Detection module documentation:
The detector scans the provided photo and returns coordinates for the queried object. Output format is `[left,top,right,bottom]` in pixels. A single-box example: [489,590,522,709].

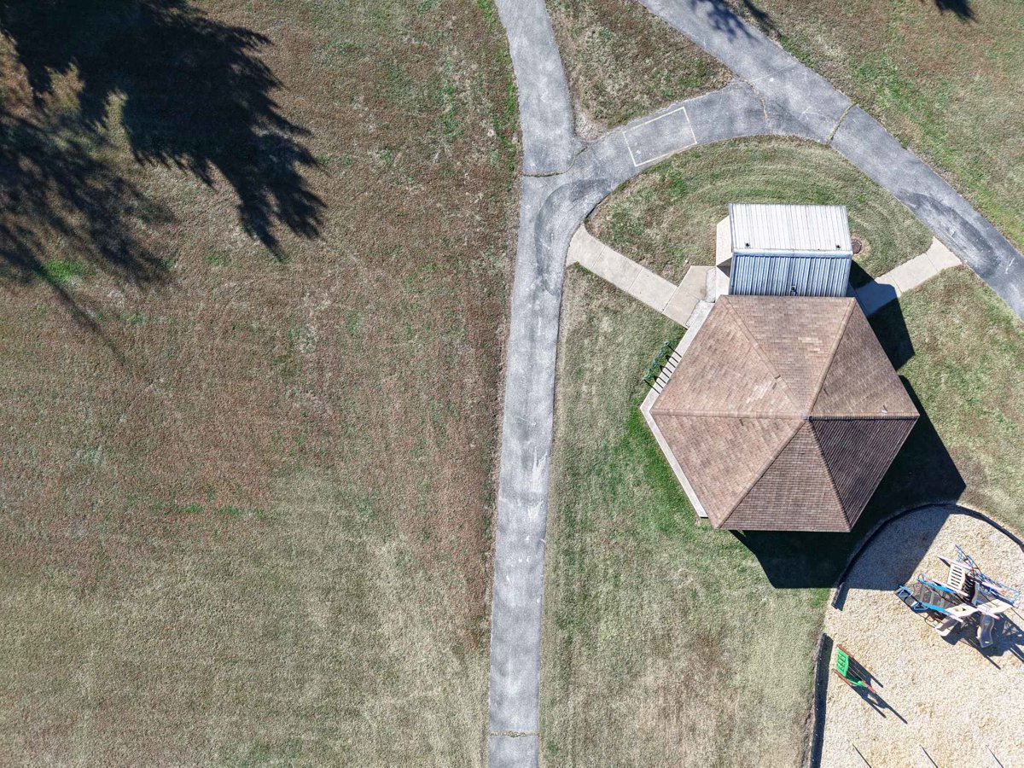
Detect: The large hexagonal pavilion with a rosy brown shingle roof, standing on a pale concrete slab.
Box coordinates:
[640,294,921,533]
